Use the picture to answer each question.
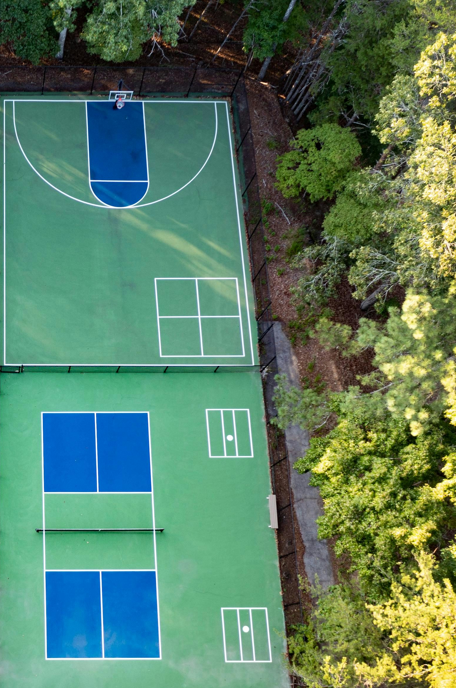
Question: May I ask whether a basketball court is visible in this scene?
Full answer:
Yes, the picture does show a basketball court.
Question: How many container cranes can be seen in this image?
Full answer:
The count of container cranes is 0.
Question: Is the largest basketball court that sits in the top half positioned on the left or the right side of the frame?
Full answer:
The largest basketball court that sits in the top half appears in the left half of the scene.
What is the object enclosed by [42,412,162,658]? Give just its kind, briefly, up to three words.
sports court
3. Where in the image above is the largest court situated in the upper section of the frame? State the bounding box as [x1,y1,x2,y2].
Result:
[3,100,254,365]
